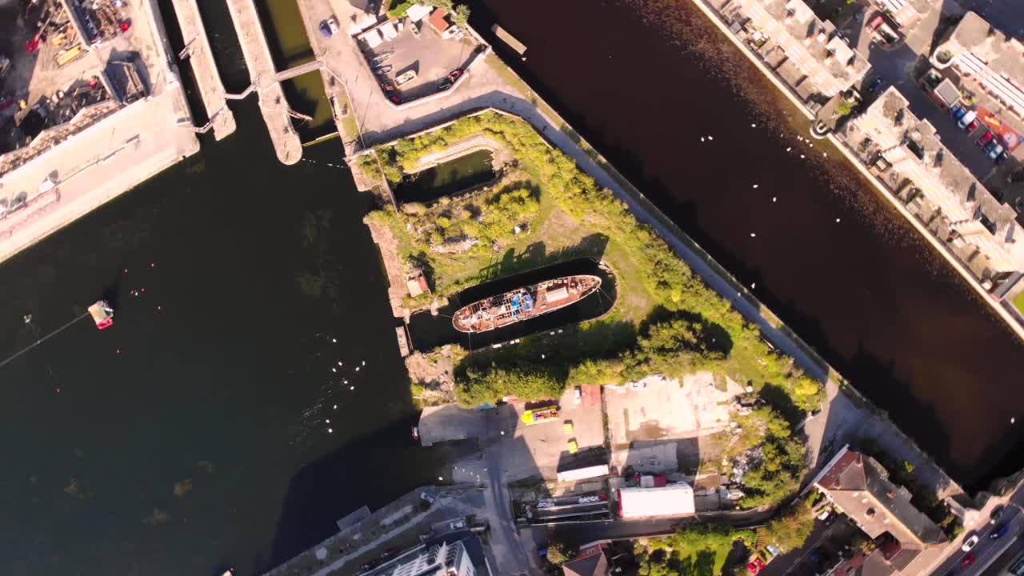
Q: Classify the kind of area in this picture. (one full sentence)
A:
What you see here is a port.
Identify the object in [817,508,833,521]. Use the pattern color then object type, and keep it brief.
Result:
white vehicle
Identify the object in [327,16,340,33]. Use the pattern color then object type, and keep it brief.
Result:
white vehicle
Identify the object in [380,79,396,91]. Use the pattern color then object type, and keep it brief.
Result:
red vehicle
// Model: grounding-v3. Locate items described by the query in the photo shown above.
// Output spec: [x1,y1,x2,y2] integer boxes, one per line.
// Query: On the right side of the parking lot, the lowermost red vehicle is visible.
[961,552,977,567]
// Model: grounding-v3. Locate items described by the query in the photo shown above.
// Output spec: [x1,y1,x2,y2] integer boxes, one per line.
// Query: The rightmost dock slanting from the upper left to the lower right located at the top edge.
[493,27,526,57]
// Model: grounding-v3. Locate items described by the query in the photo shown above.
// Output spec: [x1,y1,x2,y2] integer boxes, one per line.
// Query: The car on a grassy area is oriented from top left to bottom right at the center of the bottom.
[420,492,435,505]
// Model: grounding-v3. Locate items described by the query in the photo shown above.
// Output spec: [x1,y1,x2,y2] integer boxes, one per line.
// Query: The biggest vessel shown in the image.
[452,279,605,330]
